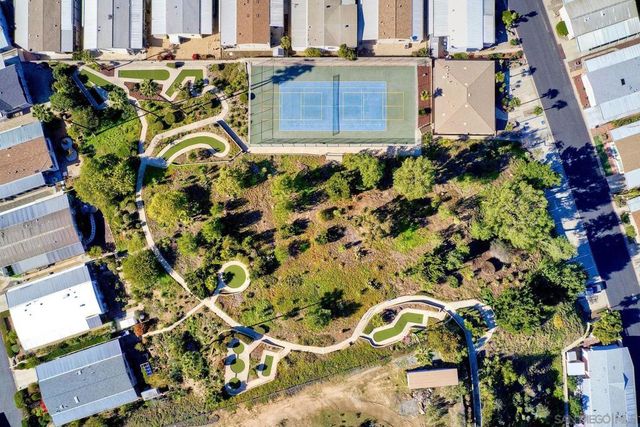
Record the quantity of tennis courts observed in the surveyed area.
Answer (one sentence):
There is 1 tennis court in the image.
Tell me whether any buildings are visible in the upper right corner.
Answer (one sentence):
Yes, looking in the upper right corner, one can make out a building.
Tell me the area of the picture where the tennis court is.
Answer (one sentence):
The tennis court is in the top part of the image.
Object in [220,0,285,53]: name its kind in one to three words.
house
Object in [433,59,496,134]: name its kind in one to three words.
building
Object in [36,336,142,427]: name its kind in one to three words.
house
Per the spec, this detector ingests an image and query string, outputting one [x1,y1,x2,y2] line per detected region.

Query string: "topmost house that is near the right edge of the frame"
[555,0,640,55]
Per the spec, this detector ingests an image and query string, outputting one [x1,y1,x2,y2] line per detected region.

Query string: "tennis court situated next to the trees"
[249,64,418,146]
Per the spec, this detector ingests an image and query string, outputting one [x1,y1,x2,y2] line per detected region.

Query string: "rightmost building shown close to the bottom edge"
[576,342,637,427]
